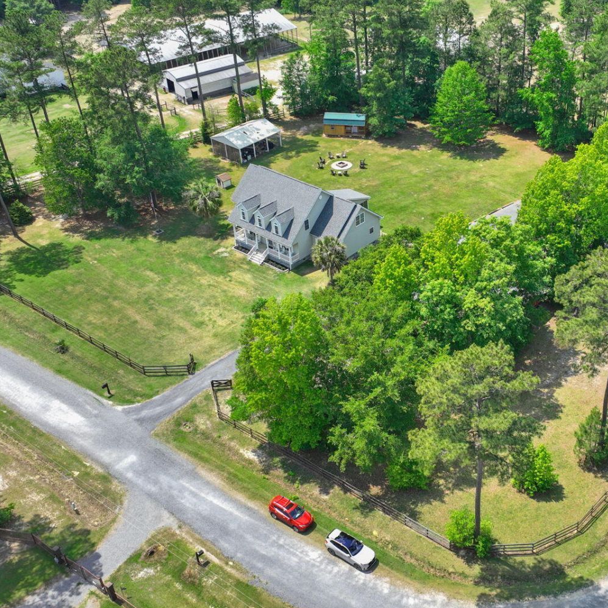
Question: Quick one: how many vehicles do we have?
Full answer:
In total, 2 vehicles can be seen.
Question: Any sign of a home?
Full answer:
Yes, the frame does contain a home.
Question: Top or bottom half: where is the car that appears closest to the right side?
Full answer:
You can find the car that appears closest to the right side in the bottom half.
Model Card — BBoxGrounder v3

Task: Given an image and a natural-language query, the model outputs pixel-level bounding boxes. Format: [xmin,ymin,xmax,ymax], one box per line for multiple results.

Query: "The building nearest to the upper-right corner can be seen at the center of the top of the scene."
[322,115,367,137]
